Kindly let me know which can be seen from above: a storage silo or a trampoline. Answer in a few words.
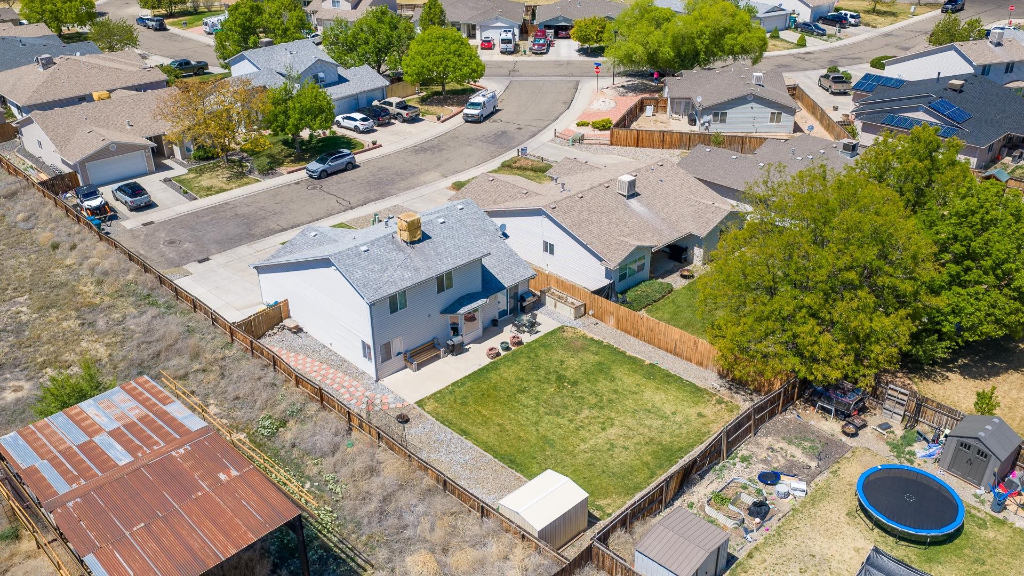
trampoline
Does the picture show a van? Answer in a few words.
Yes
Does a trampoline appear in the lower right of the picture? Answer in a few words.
Yes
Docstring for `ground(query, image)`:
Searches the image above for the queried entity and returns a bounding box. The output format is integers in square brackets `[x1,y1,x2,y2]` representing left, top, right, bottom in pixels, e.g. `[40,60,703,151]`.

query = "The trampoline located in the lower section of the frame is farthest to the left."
[757,466,779,483]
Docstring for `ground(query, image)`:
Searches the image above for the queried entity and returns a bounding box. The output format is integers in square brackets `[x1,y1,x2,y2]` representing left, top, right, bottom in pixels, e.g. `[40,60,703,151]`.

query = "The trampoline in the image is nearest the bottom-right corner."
[850,464,965,550]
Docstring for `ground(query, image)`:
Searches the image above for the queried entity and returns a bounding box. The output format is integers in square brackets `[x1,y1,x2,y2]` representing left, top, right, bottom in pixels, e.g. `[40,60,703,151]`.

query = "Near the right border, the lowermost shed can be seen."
[936,413,1021,493]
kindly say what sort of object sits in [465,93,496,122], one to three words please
van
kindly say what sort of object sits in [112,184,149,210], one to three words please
car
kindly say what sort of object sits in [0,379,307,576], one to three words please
barn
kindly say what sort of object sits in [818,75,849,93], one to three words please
vehicle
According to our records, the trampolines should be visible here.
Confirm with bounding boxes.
[757,466,779,483]
[850,464,965,550]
